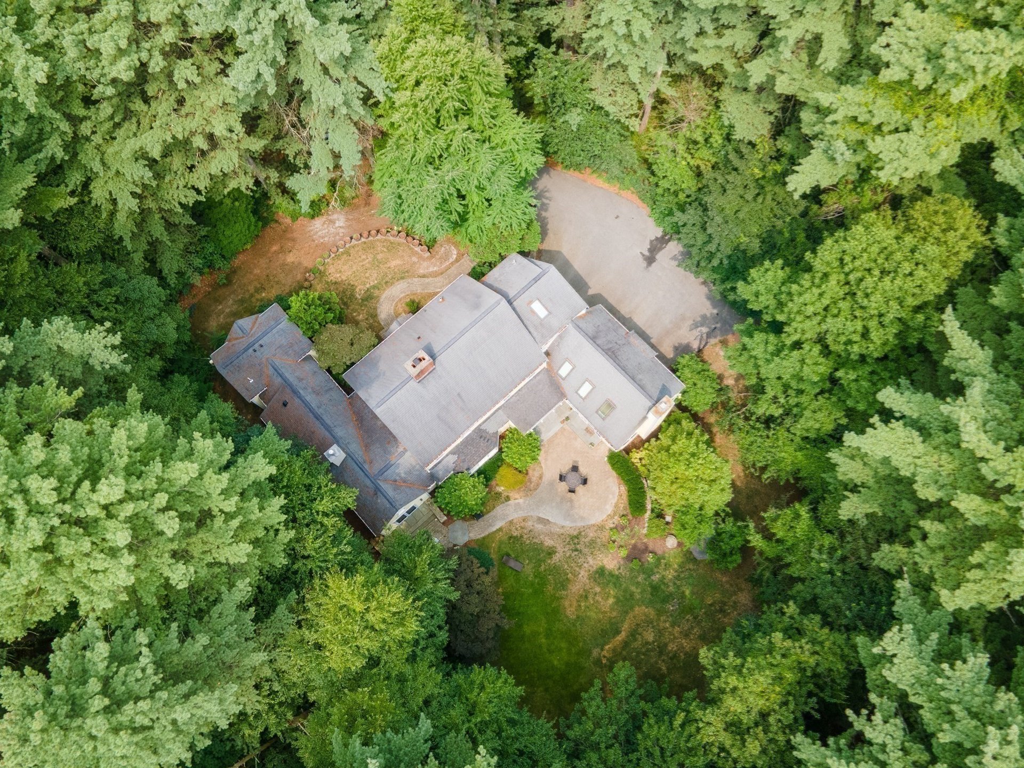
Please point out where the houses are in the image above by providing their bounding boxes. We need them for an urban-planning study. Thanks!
[213,249,682,538]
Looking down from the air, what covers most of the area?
trees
